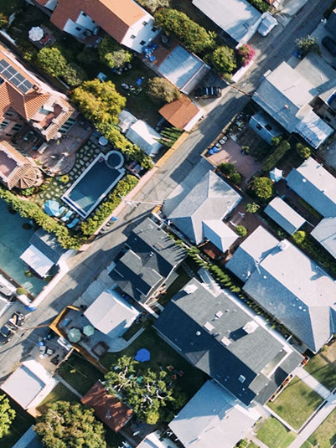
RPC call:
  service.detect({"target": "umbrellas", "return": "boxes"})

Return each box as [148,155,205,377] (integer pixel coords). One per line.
[28,26,46,42]
[83,324,95,336]
[270,167,284,182]
[67,327,83,343]
[45,199,61,216]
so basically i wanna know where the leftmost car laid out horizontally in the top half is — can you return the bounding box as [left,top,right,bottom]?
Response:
[195,85,222,98]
